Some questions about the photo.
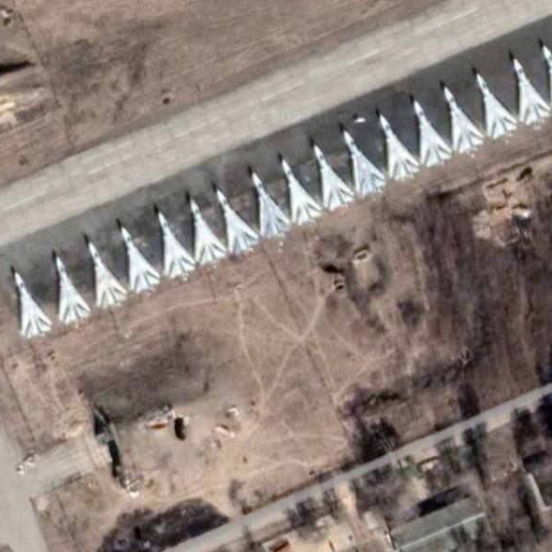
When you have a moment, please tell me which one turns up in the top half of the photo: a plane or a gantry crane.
plane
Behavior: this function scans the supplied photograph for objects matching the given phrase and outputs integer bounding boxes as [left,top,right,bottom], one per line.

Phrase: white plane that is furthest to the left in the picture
[14,270,50,337]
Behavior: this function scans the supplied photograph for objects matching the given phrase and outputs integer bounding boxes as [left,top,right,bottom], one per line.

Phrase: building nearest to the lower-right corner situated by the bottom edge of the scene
[391,500,482,552]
